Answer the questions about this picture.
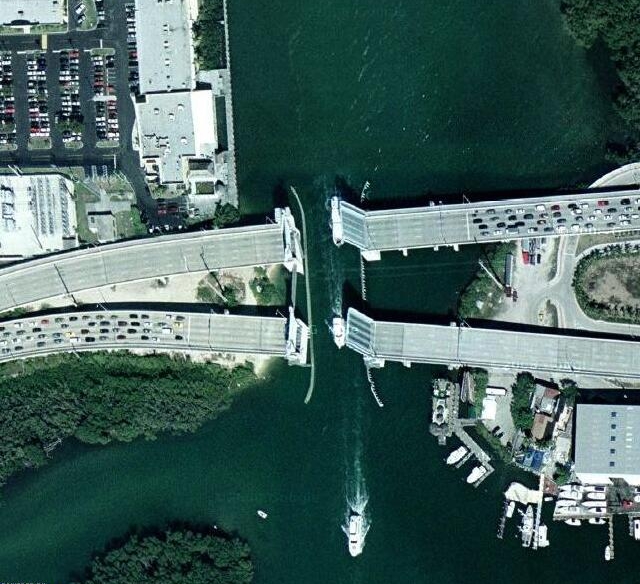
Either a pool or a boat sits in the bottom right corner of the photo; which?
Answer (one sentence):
It is a boat that can be seen in the bottom right corner of the photo.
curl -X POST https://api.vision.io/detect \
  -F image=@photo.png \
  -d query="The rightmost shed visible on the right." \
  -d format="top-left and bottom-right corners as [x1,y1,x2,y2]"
[574,405,640,481]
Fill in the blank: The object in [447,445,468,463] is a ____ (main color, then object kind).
white boat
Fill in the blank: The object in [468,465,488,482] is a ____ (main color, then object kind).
white boat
